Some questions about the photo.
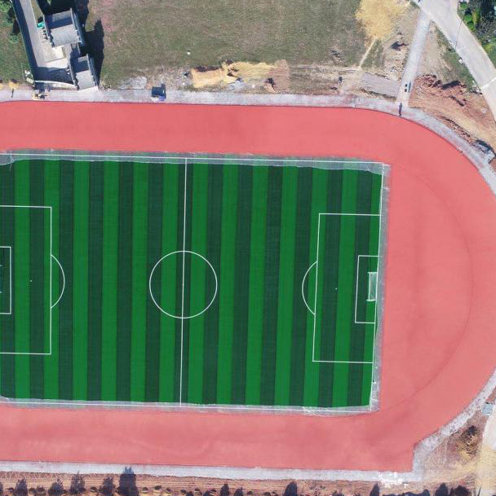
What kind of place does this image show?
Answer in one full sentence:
It's a sports ground.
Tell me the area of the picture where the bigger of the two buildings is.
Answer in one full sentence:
The bigger of the two buildings is located in the top left region of the scene.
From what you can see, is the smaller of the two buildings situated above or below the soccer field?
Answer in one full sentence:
In the image, the smaller of the two buildings appears above the soccer field.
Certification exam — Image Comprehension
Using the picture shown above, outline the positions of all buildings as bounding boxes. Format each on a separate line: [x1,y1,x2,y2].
[69,52,99,94]
[45,6,85,53]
